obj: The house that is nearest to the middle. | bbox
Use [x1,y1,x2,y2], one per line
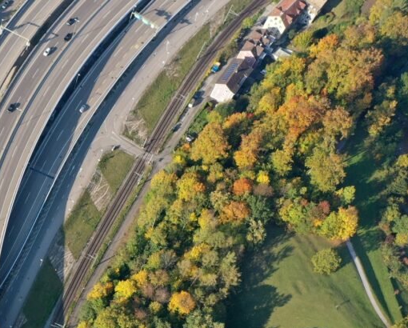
[208,54,250,97]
